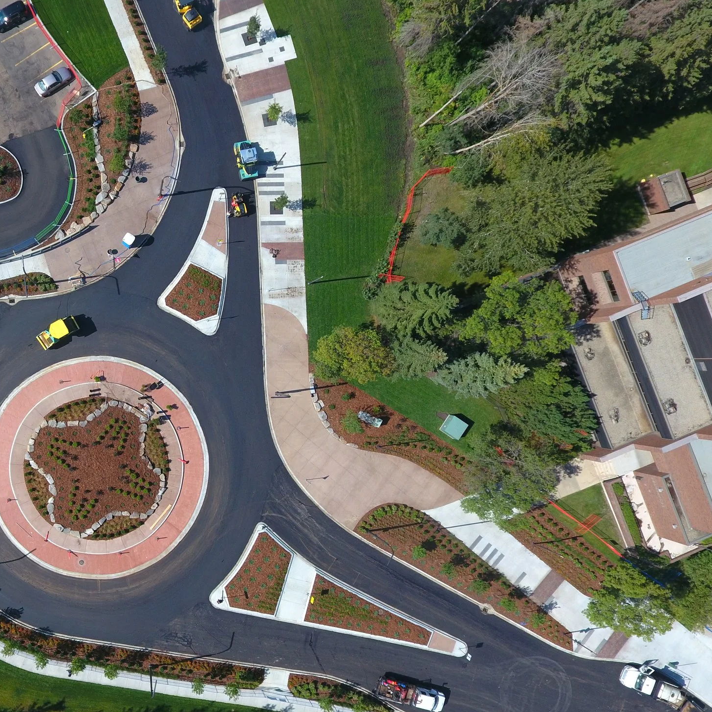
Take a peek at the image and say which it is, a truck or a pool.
truck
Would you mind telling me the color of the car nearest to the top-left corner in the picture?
black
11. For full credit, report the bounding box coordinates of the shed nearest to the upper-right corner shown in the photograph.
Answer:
[639,169,692,213]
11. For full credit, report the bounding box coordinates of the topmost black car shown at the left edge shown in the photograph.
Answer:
[0,1,35,32]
